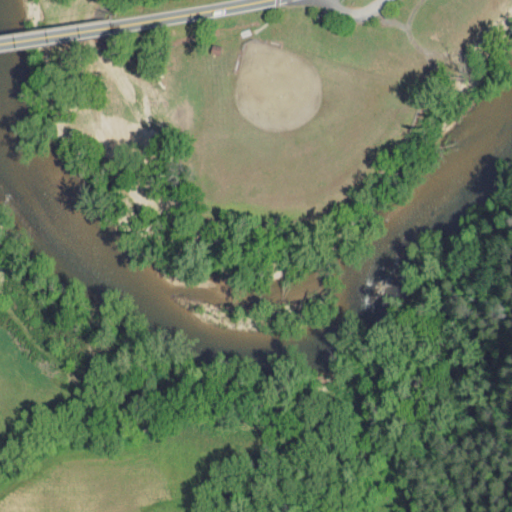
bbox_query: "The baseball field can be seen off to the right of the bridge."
[235,38,322,131]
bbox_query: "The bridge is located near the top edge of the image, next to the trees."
[0,16,116,53]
